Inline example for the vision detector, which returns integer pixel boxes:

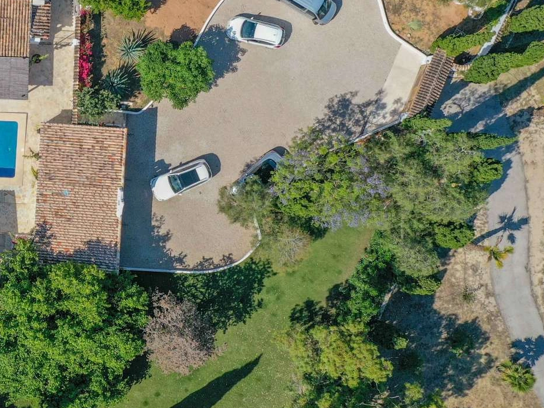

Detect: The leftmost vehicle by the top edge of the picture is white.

[224,13,285,49]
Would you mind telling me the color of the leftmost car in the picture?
white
